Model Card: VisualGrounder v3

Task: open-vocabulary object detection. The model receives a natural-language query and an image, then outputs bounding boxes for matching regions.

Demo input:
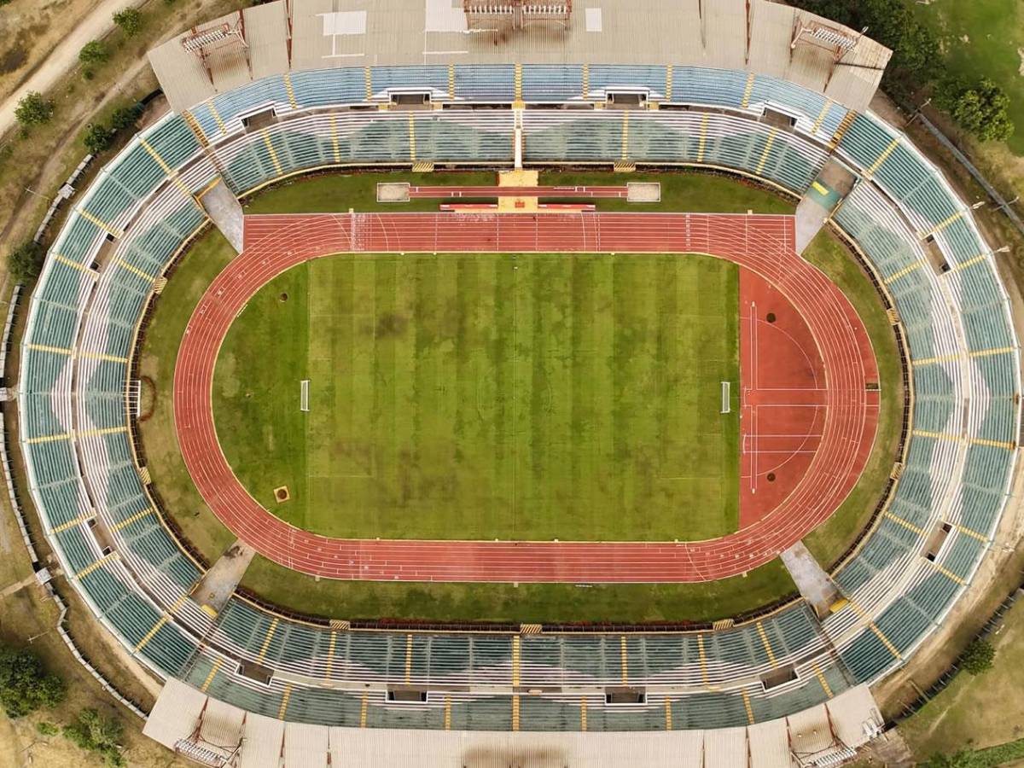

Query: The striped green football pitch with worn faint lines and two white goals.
[212,253,739,541]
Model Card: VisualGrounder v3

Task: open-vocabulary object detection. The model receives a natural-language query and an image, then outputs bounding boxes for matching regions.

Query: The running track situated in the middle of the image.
[172,213,880,581]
